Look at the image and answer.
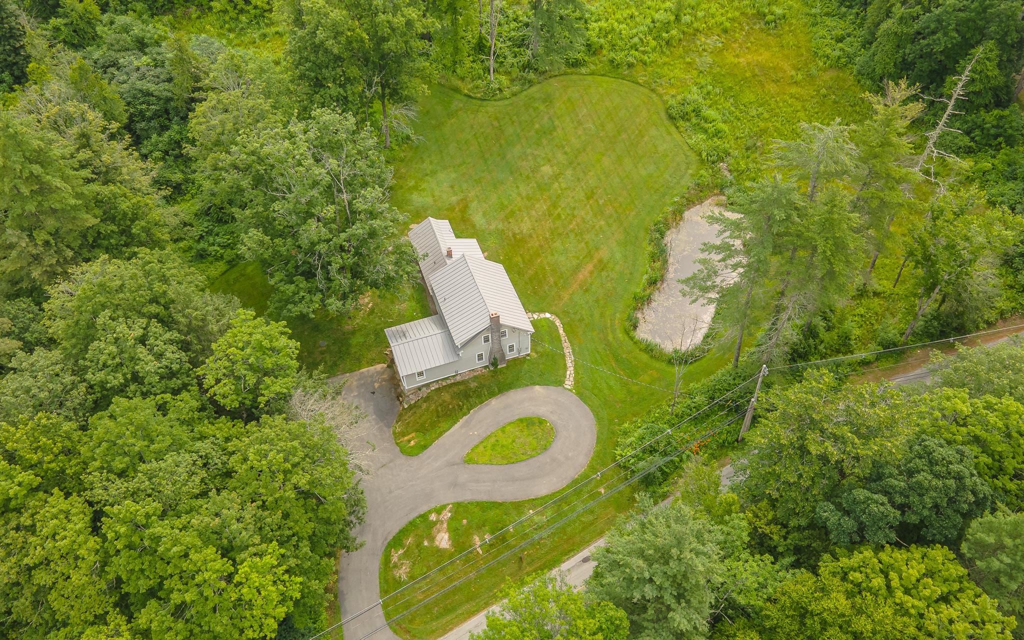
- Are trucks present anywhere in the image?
No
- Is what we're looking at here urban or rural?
rural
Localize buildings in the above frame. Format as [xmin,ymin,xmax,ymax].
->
[382,216,534,394]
